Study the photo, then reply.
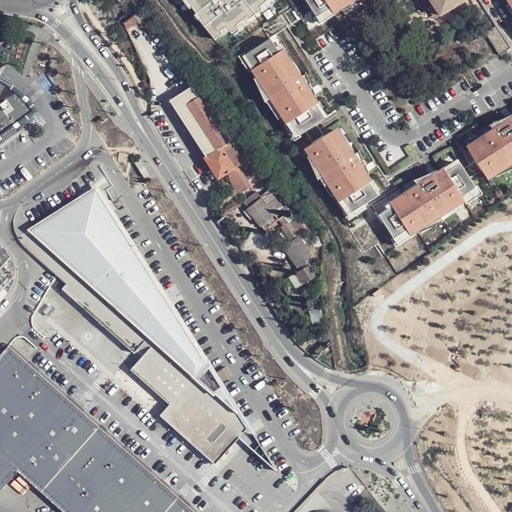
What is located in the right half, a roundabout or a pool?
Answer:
roundabout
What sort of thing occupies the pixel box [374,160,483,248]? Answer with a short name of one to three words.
house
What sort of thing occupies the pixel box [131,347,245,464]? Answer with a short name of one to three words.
building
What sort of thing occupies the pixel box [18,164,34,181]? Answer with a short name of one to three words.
vehicle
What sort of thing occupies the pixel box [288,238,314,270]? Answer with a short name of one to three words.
house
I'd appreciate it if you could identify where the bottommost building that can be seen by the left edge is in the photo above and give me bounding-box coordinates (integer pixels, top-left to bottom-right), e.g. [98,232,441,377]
[0,345,196,512]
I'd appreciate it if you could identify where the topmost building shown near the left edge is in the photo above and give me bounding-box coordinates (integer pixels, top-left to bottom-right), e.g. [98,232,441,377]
[0,77,37,144]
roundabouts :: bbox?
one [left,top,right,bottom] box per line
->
[328,377,414,463]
